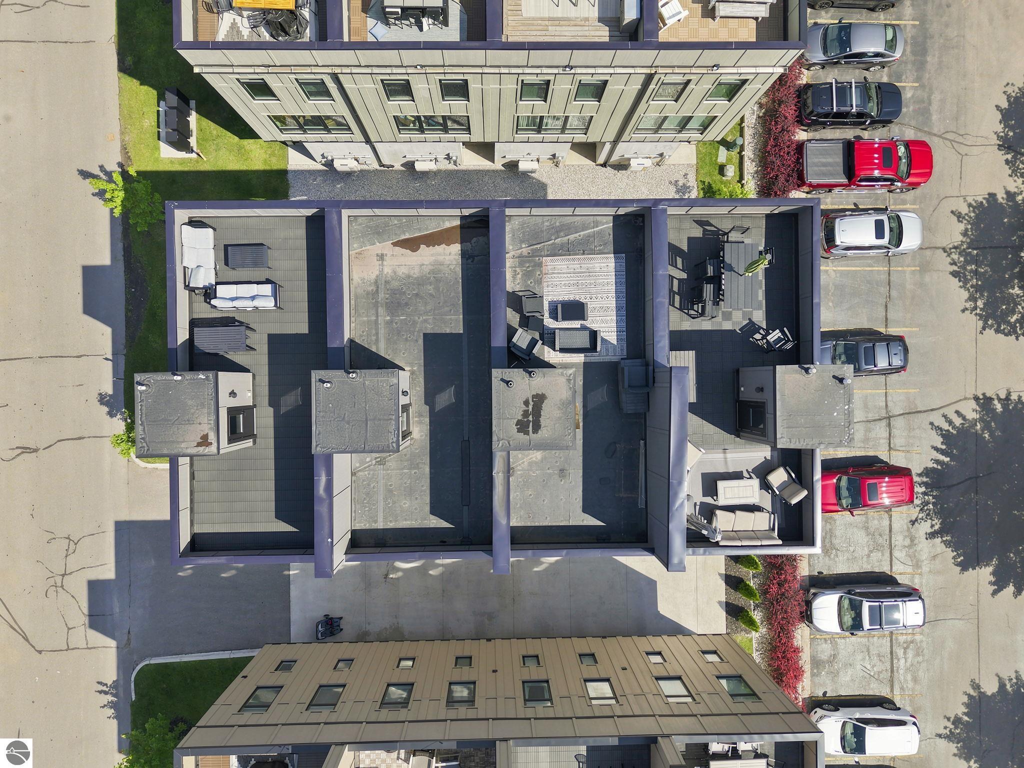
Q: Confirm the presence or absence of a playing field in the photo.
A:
No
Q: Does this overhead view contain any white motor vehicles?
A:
Yes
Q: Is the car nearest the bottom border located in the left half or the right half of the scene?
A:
right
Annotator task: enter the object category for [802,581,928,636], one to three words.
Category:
car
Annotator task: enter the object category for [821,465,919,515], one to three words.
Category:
car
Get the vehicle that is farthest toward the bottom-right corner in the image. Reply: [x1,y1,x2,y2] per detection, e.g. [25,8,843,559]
[806,697,919,757]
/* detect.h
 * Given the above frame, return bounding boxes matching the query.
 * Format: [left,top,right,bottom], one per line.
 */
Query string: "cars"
[796,18,904,73]
[802,581,928,636]
[795,77,902,132]
[806,697,919,757]
[820,329,911,375]
[819,205,922,256]
[807,0,911,13]
[821,465,919,515]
